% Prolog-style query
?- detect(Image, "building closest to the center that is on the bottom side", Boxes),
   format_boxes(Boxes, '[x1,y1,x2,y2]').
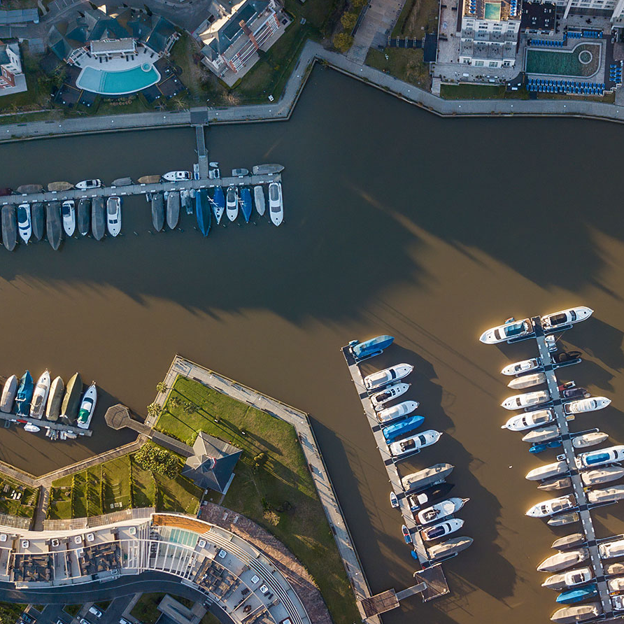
[181,433,243,497]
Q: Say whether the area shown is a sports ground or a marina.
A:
marina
